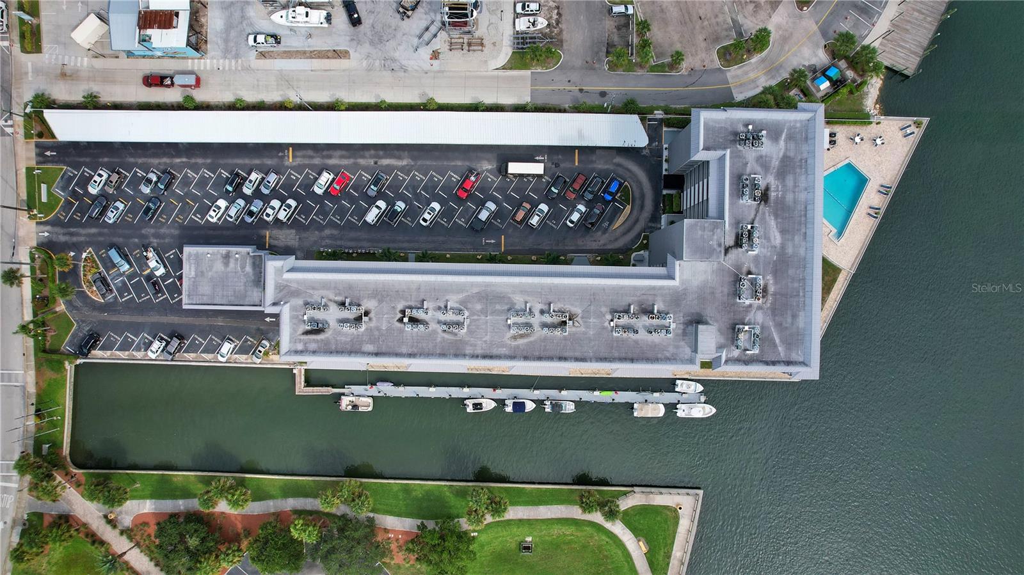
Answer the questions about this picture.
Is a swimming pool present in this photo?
Yes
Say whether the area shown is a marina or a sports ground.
marina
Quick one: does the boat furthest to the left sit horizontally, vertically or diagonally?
horizontally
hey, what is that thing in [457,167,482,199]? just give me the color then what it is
red truck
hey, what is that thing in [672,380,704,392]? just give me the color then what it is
white boat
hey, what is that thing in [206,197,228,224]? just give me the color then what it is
white car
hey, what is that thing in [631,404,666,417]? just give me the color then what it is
white boat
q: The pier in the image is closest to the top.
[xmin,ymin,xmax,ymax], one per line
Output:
[877,0,949,77]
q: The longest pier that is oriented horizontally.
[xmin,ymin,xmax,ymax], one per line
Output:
[345,385,712,404]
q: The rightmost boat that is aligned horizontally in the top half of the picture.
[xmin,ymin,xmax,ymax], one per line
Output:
[515,16,547,31]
